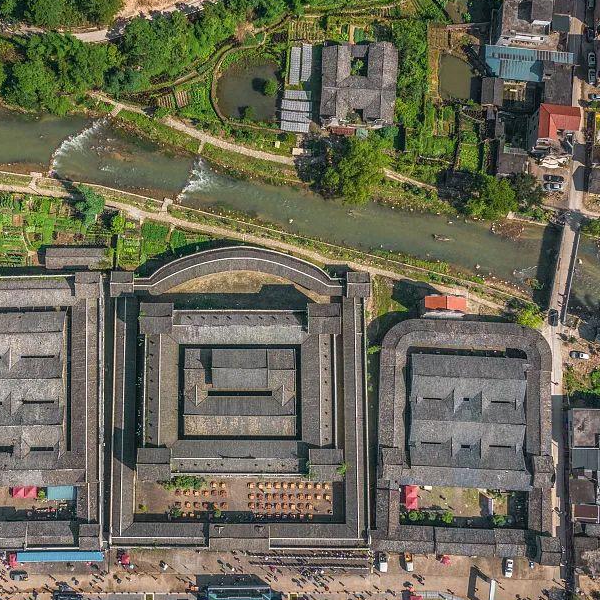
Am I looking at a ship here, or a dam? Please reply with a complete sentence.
Visible in the photo is a dam.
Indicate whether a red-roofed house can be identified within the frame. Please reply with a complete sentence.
Yes, this view includes a red-roofed house.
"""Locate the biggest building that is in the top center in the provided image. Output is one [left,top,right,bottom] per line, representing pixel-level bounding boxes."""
[320,42,397,137]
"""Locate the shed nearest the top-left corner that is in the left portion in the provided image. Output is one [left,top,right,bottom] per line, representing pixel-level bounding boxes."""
[45,247,106,267]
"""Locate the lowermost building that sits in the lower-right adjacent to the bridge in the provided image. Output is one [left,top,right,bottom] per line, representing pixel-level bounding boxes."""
[371,320,561,566]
